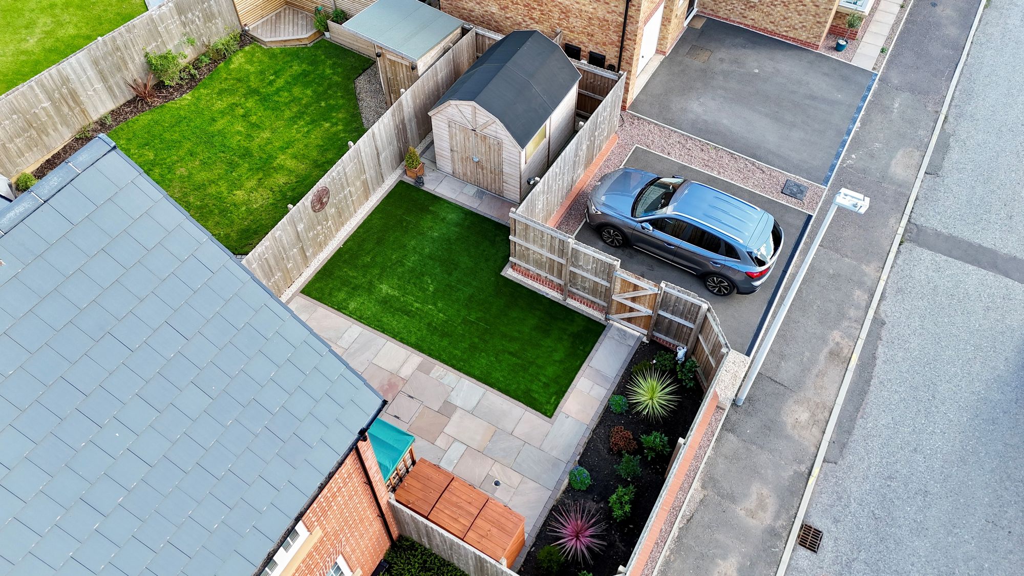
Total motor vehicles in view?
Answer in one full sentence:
In total, there is 1 motor vehicle in the scene.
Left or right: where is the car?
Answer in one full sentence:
You can find the car on the right side of the picture.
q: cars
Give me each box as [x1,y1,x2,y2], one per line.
[585,167,786,292]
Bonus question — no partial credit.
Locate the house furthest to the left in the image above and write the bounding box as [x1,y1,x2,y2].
[0,128,400,576]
